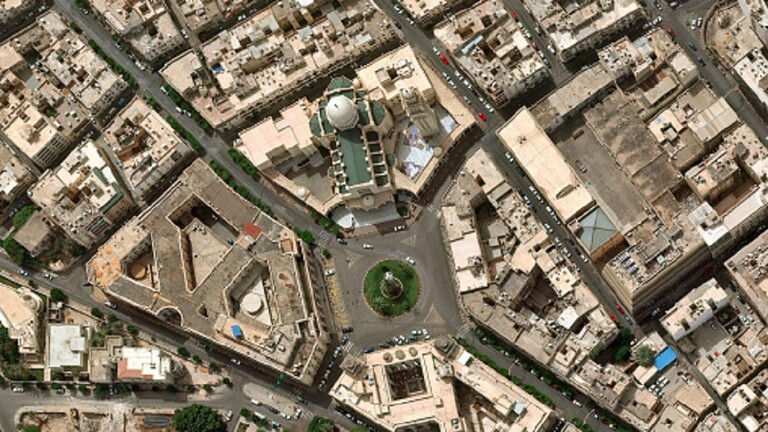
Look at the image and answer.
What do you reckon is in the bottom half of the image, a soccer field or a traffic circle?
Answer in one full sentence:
It is a traffic circle that can be seen in the bottom half of the image.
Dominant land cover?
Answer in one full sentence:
The largest share of the image is taken up by buildings.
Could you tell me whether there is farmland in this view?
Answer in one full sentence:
No, the picture contains no farmland.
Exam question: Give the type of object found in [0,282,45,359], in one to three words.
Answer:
house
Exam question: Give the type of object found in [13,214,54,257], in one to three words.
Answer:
building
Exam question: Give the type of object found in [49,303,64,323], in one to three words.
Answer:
shed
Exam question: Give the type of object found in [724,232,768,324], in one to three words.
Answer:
building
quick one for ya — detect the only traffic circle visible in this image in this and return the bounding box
[363,258,421,316]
